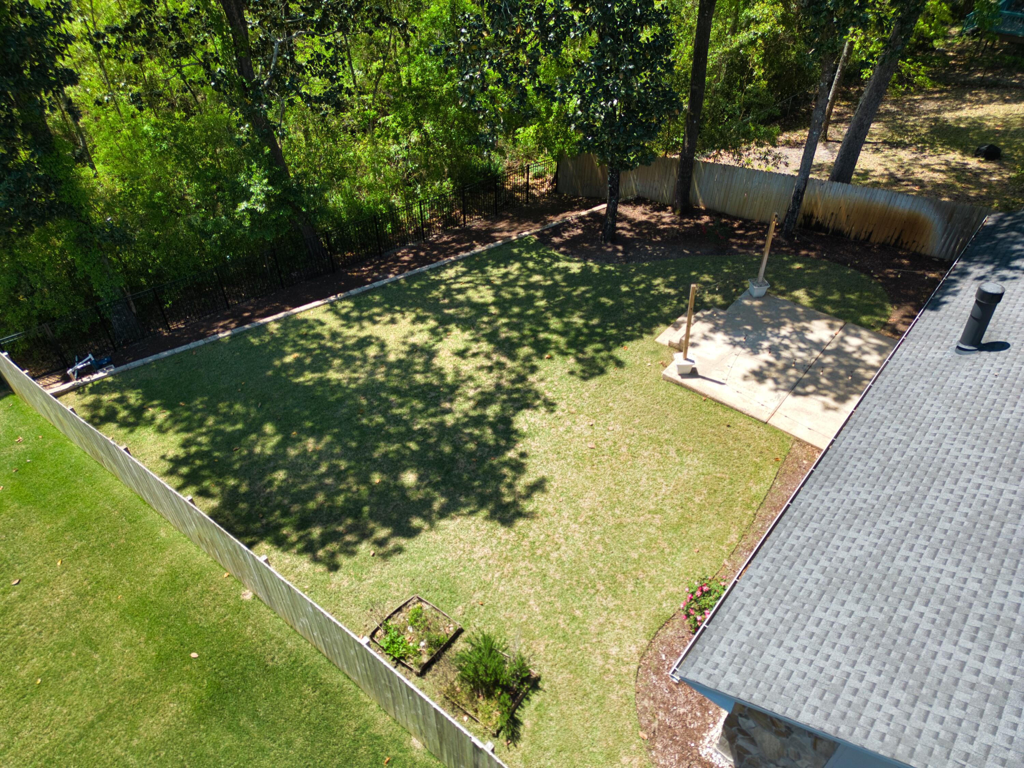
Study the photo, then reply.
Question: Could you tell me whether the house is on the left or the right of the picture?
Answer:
right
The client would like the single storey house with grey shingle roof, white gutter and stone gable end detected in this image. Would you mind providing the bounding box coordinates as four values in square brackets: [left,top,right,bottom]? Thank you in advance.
[666,213,1024,768]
